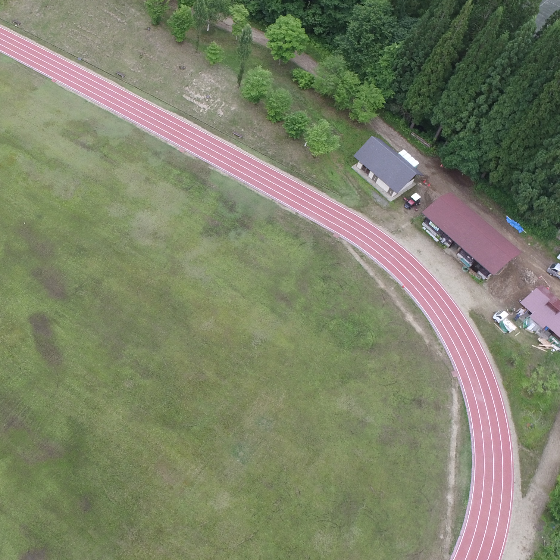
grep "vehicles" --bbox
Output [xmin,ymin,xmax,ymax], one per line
[545,264,560,284]
[399,192,421,214]
[492,308,518,332]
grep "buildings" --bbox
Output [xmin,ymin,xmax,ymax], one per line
[419,194,522,280]
[508,286,560,362]
[351,138,424,204]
